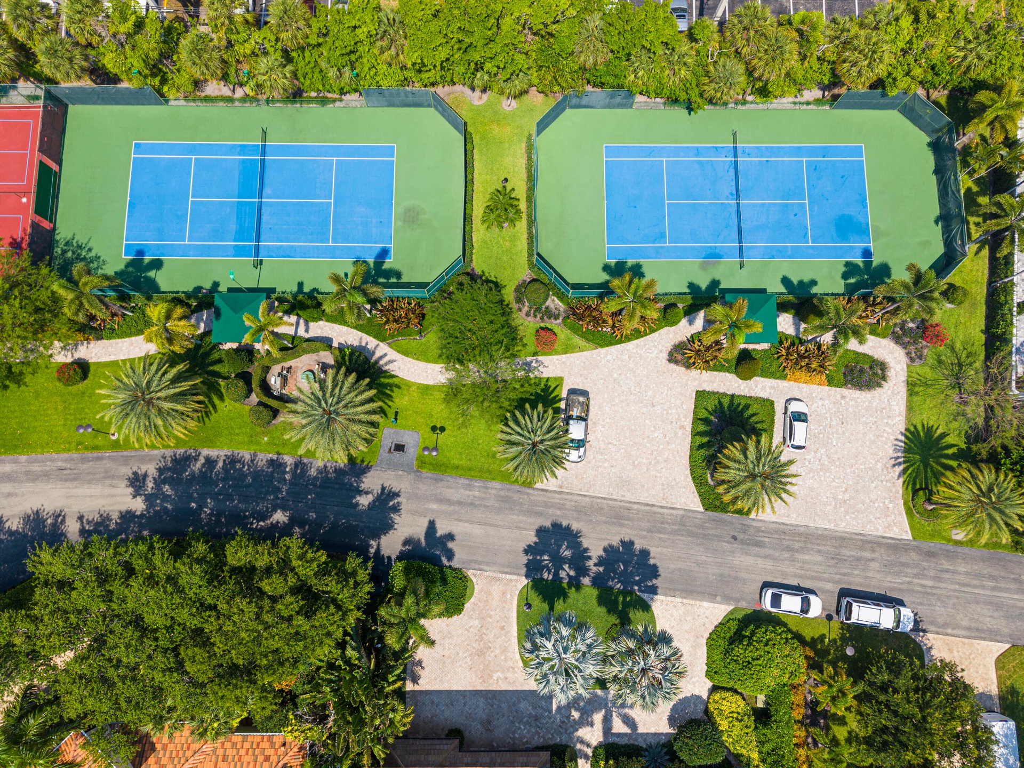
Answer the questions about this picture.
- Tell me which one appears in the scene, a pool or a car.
car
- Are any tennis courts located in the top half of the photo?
Yes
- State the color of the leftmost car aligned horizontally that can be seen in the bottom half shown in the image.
white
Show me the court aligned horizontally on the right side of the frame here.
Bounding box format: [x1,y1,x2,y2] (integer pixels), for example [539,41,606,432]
[535,108,945,300]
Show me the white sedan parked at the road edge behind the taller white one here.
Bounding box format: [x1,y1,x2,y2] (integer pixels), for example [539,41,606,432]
[761,588,820,619]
